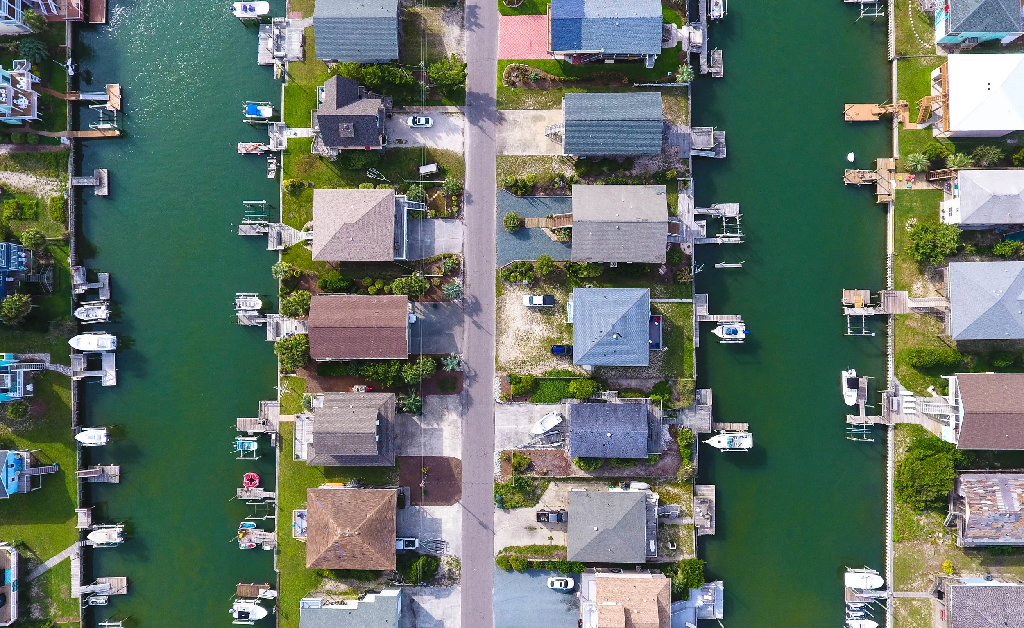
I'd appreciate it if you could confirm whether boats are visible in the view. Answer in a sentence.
Yes, you can see a boat in this photo.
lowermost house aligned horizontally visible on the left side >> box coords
[298,584,404,628]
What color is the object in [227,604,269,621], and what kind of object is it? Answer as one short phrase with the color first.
white boat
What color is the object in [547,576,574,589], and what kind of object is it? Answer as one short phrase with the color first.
white vehicle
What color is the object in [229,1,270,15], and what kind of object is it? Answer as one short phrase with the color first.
white boat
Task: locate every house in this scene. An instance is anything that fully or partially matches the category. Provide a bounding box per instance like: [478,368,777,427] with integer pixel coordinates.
[914,0,1024,50]
[909,262,1024,339]
[547,0,672,69]
[299,189,425,260]
[567,288,662,371]
[545,92,674,157]
[553,185,681,263]
[567,488,679,563]
[921,373,1024,449]
[942,469,1024,547]
[916,53,1024,137]
[0,355,46,404]
[291,393,396,466]
[928,168,1024,232]
[581,567,671,628]
[0,59,47,124]
[298,584,404,628]
[308,293,412,362]
[293,486,405,570]
[0,239,55,301]
[928,571,1024,628]
[0,449,59,502]
[311,73,393,163]
[0,545,21,628]
[561,390,676,458]
[313,0,405,69]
